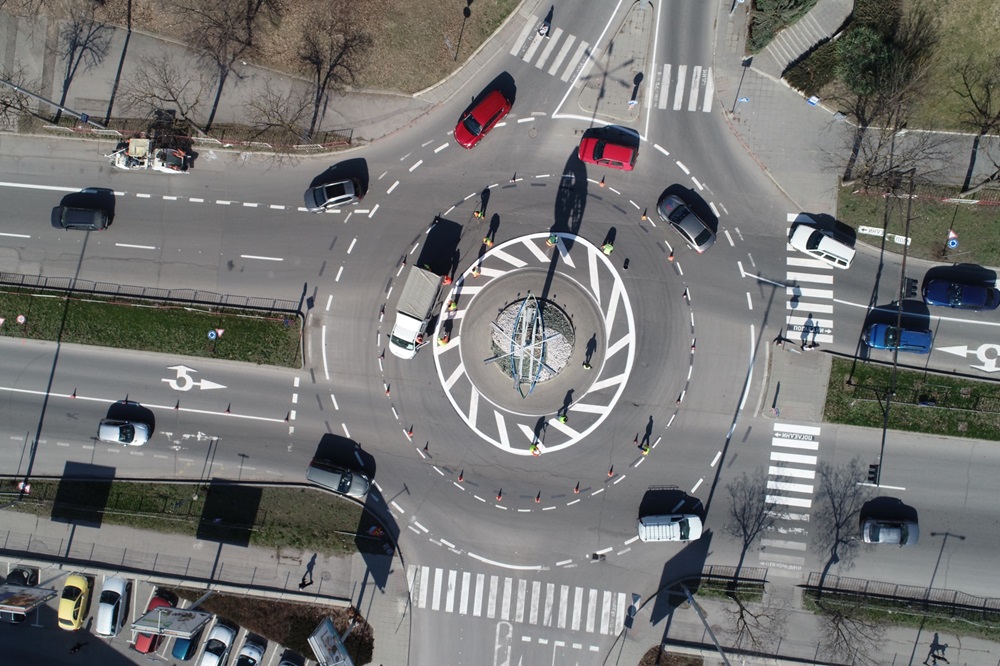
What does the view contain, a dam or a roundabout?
roundabout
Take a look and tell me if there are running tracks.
No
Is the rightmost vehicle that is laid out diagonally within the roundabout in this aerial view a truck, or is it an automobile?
automobile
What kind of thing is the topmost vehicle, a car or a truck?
car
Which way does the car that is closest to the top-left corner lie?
from left to right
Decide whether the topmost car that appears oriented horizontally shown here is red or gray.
red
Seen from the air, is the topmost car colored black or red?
red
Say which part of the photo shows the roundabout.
center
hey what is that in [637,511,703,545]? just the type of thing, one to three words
vehicle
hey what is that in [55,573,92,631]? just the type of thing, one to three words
car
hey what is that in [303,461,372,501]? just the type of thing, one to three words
car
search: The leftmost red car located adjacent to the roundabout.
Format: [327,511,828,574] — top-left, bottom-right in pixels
[454,85,515,149]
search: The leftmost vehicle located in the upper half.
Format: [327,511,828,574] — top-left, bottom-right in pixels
[49,201,113,235]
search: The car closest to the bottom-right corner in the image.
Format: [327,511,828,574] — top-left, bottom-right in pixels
[859,516,919,549]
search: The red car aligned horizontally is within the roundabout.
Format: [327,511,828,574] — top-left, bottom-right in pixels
[576,136,640,170]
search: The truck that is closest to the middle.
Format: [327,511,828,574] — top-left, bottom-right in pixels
[385,266,441,358]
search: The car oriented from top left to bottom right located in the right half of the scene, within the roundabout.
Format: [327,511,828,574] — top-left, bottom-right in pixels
[651,195,721,258]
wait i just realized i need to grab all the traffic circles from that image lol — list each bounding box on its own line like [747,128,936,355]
[327,124,749,562]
